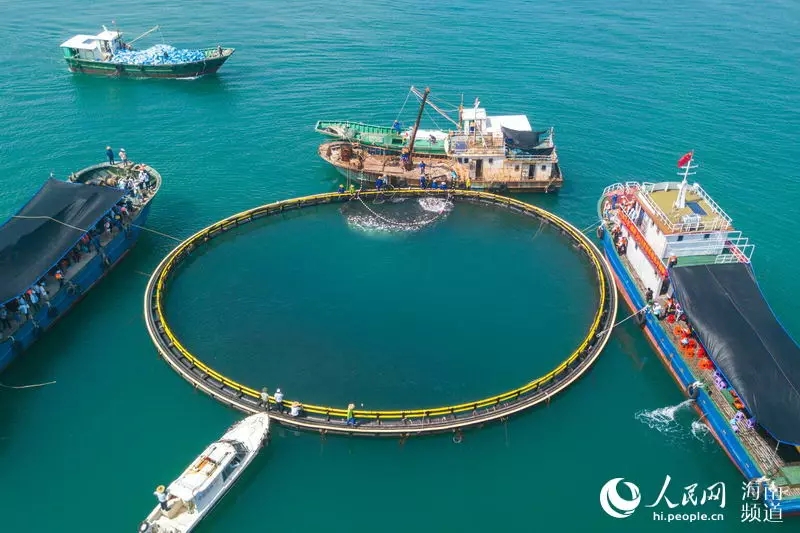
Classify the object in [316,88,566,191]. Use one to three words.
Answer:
boat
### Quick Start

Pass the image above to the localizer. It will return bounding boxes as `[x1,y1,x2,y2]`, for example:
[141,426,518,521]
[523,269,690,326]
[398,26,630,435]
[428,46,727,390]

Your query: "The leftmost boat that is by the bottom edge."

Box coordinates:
[145,408,275,533]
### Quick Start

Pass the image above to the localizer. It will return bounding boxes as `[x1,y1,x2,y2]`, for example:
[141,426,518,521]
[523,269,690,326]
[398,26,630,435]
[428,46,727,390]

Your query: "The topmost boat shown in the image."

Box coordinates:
[55,12,238,80]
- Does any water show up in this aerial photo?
Yes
